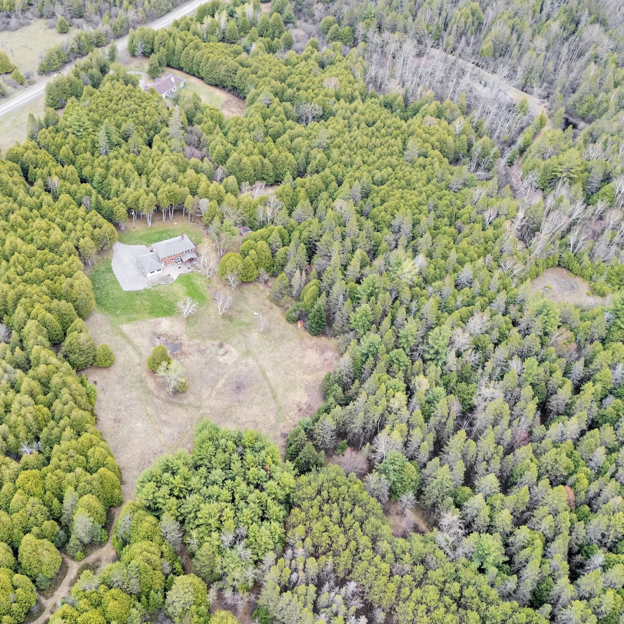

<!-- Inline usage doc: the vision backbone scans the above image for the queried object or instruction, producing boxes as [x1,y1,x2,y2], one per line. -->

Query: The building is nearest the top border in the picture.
[141,73,185,100]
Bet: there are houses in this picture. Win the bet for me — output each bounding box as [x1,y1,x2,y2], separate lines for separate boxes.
[140,233,199,281]
[141,73,185,100]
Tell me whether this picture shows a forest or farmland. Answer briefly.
forest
